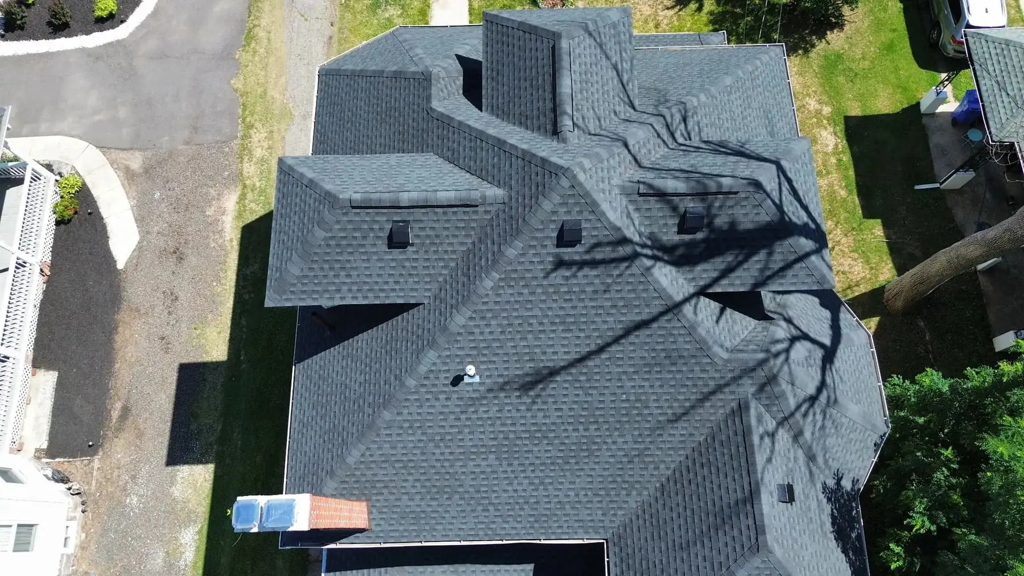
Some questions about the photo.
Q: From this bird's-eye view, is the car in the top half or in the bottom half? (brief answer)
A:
top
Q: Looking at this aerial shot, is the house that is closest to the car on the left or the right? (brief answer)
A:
right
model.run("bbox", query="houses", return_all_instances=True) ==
[0,109,78,576]
[220,7,888,576]
[960,27,1024,181]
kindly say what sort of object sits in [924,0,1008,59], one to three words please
car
